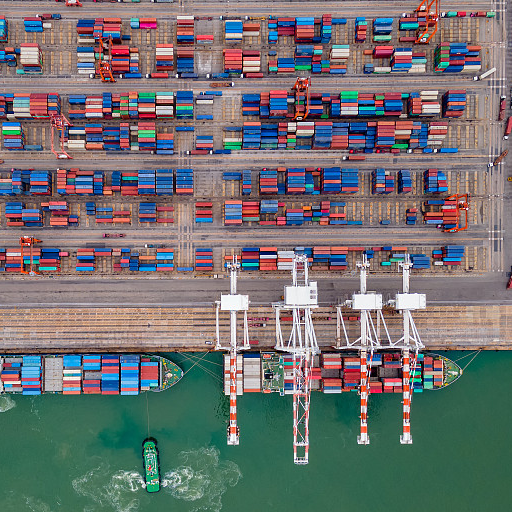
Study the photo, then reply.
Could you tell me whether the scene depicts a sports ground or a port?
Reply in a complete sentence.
It's a port.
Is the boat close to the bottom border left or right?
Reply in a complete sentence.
You can find the boat close to the bottom border on the left side of the picture.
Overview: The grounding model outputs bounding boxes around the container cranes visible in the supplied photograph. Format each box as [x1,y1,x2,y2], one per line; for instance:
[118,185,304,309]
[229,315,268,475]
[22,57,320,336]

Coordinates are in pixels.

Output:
[371,249,428,446]
[209,249,250,447]
[270,249,321,466]
[288,78,309,123]
[51,116,71,159]
[410,0,438,45]
[98,35,116,83]
[20,237,42,276]
[439,194,467,234]
[331,249,382,446]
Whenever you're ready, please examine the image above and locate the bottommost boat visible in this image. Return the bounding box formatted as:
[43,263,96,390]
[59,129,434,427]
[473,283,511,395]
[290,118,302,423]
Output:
[141,437,161,493]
